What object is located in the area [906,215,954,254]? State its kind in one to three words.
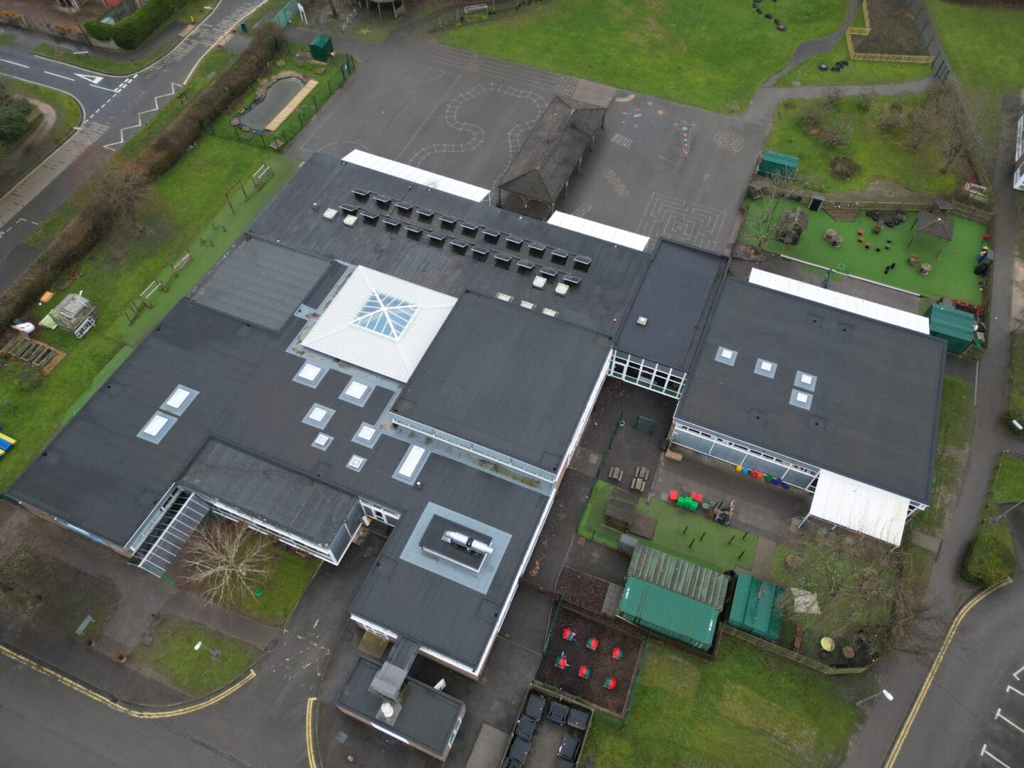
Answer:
gazebo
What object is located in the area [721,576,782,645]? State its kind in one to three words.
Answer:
shed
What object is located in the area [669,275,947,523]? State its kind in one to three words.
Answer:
building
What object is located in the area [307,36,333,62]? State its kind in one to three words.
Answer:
shed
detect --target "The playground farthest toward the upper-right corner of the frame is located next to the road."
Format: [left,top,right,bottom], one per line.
[283,0,940,255]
